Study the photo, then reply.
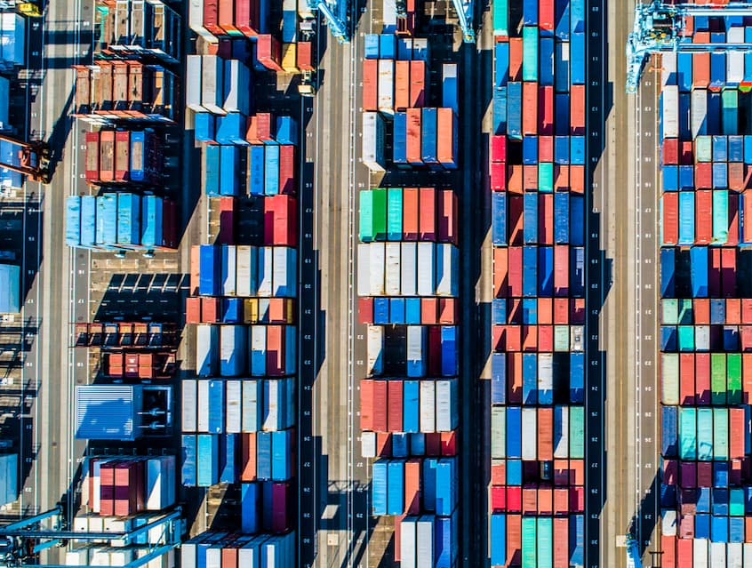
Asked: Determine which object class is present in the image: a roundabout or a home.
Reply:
home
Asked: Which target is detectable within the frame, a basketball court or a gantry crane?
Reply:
gantry crane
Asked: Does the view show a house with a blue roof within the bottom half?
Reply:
Yes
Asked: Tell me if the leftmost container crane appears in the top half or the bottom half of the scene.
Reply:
top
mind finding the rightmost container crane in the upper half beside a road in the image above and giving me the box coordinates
[623,0,752,99]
